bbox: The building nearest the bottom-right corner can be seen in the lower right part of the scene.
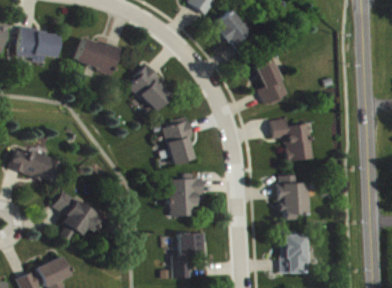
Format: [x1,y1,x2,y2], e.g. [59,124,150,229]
[278,232,309,274]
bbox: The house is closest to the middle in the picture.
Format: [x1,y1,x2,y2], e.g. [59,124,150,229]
[160,120,198,167]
